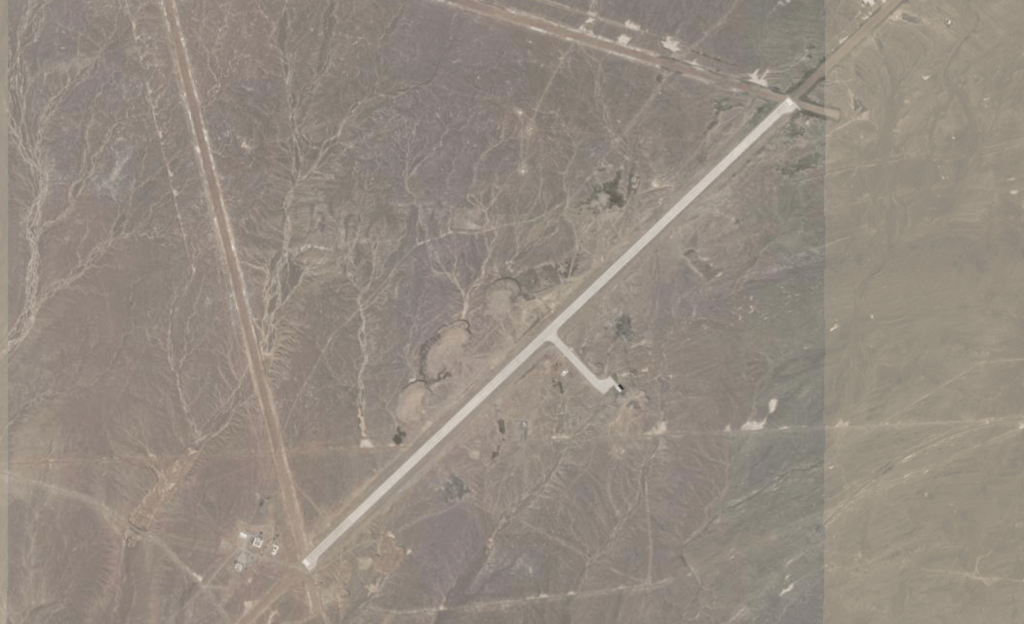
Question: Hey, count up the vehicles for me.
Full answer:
The count of vehicles is 0.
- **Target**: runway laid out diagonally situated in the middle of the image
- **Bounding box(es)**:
[303,99,801,570]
